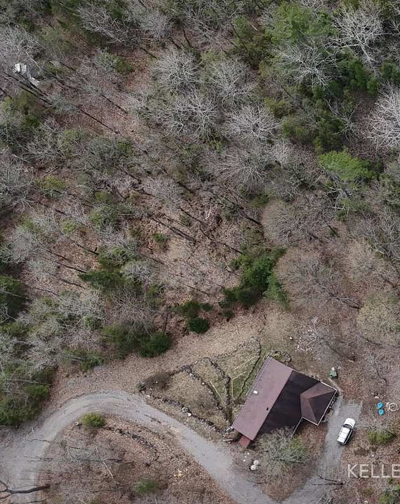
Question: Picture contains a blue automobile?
No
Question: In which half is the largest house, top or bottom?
bottom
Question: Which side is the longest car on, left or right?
right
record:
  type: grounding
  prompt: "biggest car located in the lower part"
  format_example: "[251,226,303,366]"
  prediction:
[332,417,358,449]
